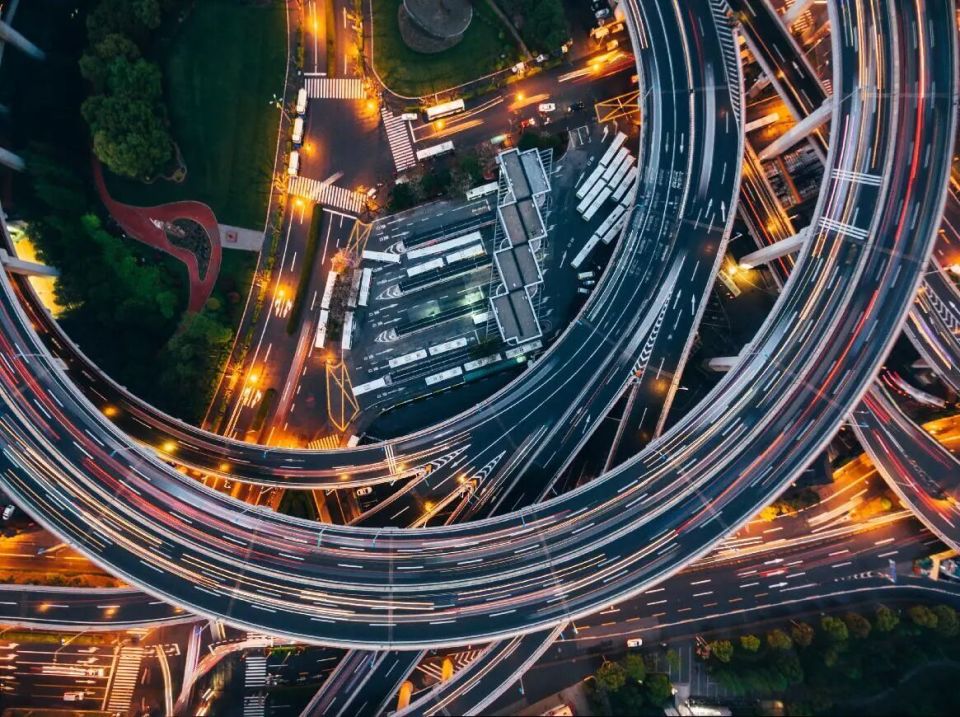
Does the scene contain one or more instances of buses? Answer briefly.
Yes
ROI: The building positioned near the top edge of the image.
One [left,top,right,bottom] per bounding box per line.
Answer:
[397,0,472,55]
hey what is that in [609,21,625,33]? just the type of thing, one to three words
vehicle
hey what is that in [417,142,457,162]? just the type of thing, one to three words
vehicle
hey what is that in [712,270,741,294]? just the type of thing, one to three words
bus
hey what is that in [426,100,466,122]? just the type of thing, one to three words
bus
